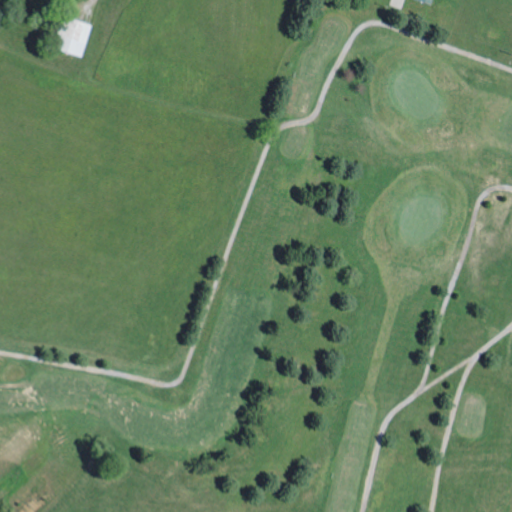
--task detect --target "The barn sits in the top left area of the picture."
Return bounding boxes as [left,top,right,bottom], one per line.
[59,19,92,58]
